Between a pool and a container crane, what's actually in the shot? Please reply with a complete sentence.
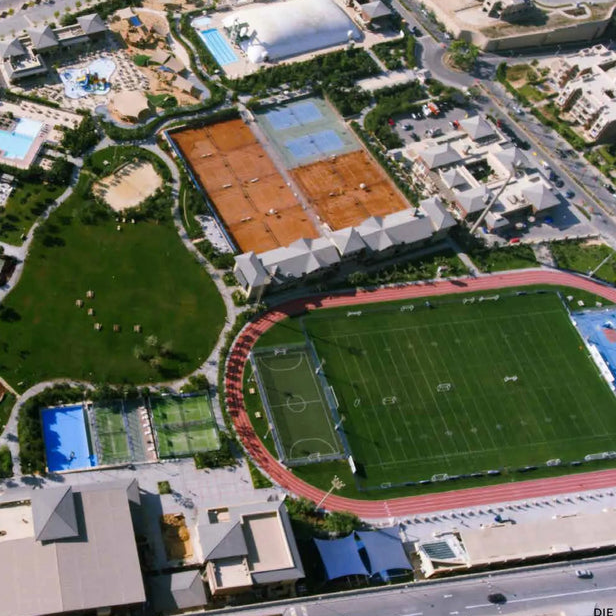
This aerial view contains a pool.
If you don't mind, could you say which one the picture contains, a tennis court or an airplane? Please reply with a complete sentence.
Of the two, only a tennis court appears.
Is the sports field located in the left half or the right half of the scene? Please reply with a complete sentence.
The sports field sits on the right side.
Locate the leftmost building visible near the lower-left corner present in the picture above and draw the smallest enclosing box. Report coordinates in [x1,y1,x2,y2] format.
[0,480,146,616]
